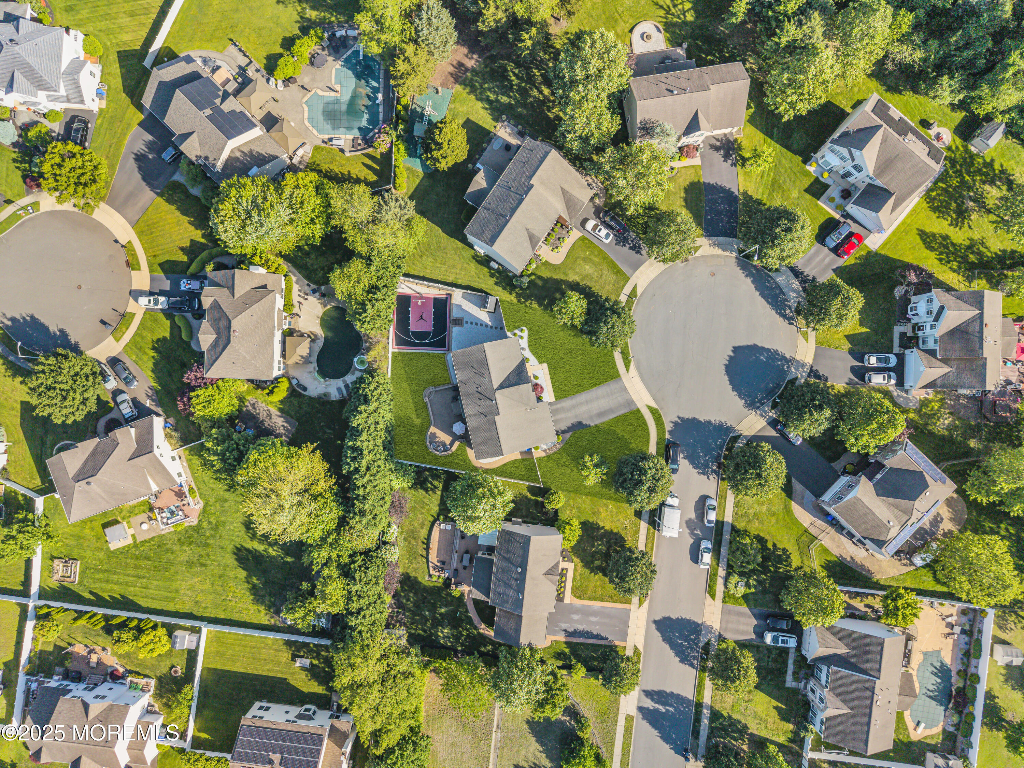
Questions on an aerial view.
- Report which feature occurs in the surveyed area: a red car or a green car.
red car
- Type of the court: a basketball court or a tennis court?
basketball court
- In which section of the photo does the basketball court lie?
center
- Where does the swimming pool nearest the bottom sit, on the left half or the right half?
right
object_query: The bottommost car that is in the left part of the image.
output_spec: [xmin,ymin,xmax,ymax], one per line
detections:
[115,392,139,422]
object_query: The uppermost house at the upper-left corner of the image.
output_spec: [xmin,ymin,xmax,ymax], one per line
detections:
[0,3,101,113]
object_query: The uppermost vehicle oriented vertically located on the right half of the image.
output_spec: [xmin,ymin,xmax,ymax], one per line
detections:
[667,443,683,474]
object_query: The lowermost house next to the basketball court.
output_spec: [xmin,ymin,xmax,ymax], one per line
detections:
[450,337,558,460]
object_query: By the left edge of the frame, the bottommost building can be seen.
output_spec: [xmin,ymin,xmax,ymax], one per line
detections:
[20,680,162,768]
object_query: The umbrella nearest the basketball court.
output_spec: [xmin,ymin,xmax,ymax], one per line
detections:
[453,421,466,435]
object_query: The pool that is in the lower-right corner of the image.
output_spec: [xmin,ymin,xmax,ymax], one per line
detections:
[907,647,956,732]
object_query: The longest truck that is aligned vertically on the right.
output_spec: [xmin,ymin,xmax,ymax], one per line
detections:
[663,493,685,542]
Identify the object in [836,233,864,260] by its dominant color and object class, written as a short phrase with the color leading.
red car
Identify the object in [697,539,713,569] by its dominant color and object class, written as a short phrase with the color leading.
white car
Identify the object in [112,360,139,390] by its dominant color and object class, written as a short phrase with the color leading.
gray car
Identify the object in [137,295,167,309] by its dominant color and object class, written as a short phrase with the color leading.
white car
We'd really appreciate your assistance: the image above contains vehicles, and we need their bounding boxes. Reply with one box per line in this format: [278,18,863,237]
[137,295,167,309]
[112,360,139,390]
[765,614,792,631]
[95,359,120,391]
[836,233,864,260]
[583,219,615,243]
[697,539,713,569]
[764,631,798,648]
[774,424,803,447]
[667,443,683,474]
[864,371,896,386]
[177,277,208,292]
[823,219,853,250]
[167,295,200,310]
[70,118,90,147]
[864,353,897,367]
[159,141,185,164]
[663,493,685,542]
[703,497,719,527]
[115,392,139,422]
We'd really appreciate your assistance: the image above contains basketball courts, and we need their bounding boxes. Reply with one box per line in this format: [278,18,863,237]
[393,293,450,350]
